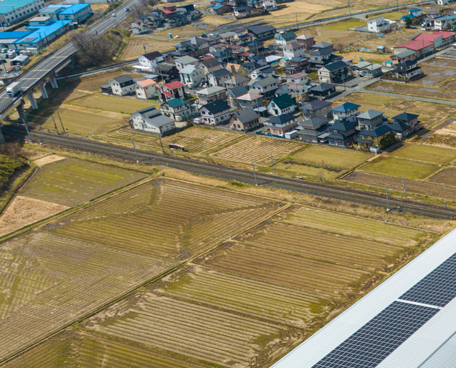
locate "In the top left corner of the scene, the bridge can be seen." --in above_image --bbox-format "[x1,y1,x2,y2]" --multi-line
[0,0,145,119]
